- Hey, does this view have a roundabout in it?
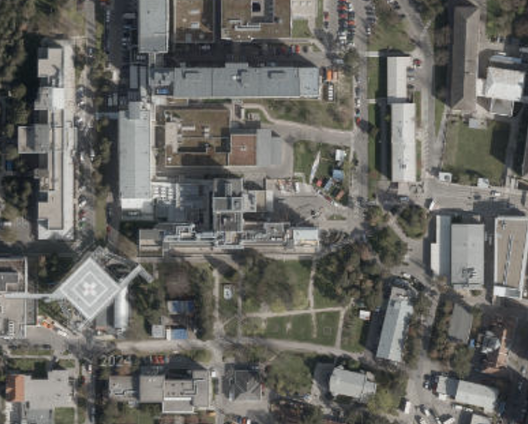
No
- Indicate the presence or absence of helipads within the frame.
Yes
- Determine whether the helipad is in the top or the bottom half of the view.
bottom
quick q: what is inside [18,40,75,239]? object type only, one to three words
building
